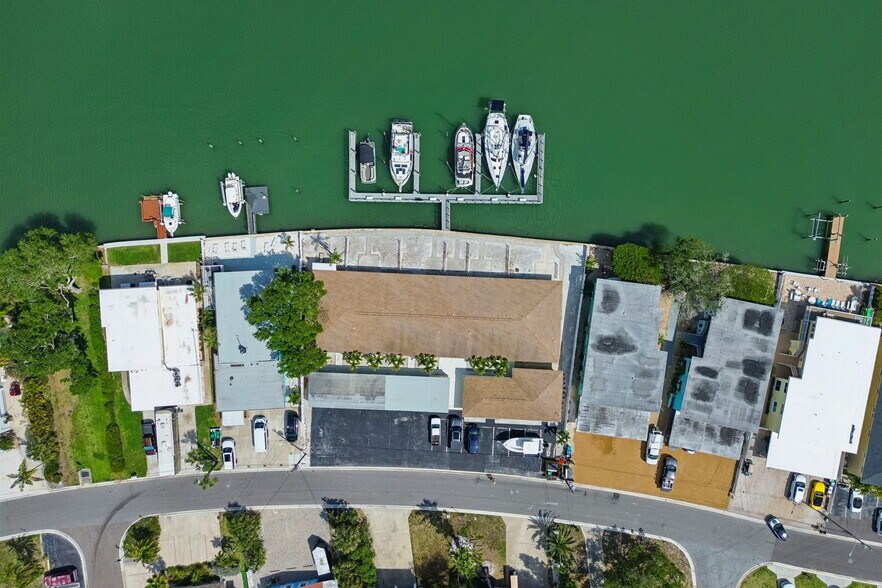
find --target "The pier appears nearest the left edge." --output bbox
[137,195,167,239]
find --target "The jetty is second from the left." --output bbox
[243,186,270,235]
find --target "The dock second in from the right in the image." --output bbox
[348,129,546,231]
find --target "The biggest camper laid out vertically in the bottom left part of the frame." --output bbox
[156,406,182,475]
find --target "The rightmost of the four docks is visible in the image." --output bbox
[821,213,854,277]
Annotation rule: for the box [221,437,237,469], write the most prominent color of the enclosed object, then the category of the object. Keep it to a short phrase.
white car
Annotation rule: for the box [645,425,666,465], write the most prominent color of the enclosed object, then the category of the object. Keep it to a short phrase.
white vehicle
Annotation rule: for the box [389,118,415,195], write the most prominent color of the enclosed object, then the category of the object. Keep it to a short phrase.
white boat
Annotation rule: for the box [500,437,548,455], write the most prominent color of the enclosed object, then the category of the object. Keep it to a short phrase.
white boat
